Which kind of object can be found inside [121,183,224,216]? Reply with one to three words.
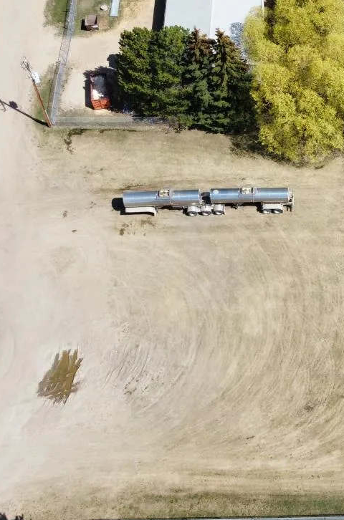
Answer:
trailer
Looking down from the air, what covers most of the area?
paved ground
